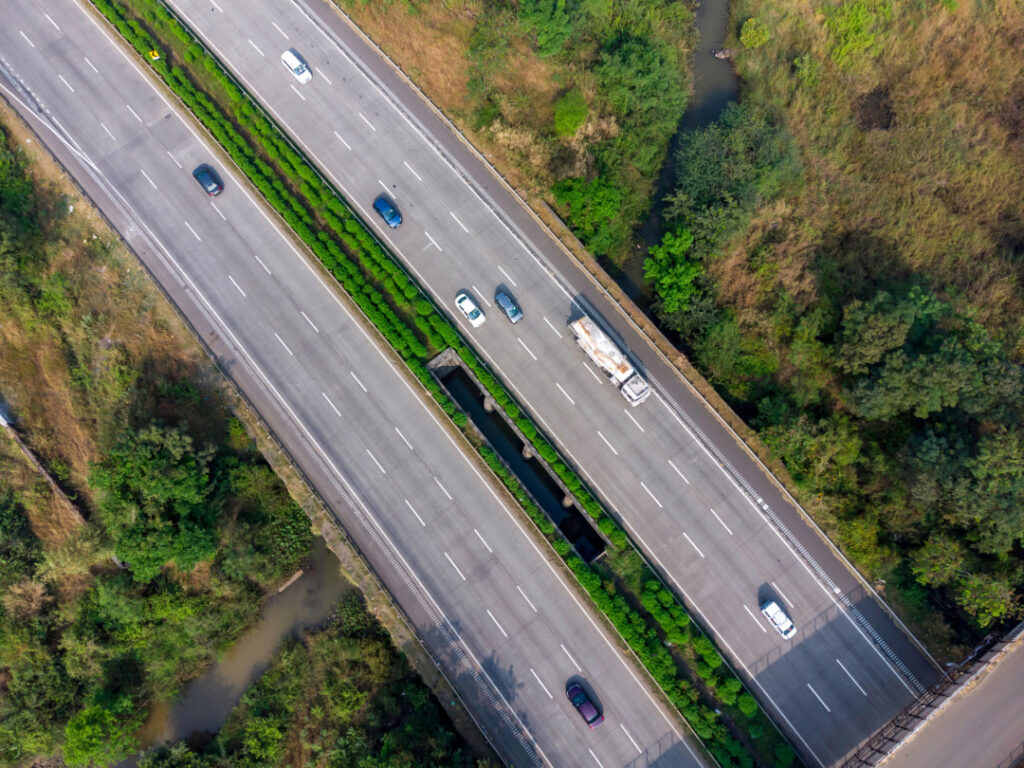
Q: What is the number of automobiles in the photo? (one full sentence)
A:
The photo contains 7 automobiles.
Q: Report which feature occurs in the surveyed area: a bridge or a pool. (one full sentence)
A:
There is a bridge in the scene.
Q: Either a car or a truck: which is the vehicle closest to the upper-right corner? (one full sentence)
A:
In the photo, the vehicle closest to the upper-right corner shows up as a truck.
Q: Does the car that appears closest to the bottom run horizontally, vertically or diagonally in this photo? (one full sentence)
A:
The car that appears closest to the bottom is oriented diagonally.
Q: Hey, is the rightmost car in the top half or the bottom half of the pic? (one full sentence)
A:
The rightmost car is in the bottom half of the image.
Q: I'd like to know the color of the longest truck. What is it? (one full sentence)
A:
The color of the longest truck is white.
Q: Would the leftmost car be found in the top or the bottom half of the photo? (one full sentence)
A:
Seen from above, the leftmost car lies in the top half of the view.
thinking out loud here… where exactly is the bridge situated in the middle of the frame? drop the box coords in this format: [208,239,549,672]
[423,346,611,572]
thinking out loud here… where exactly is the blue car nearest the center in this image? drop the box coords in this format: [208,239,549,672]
[492,290,524,323]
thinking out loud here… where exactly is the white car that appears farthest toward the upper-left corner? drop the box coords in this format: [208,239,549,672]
[277,48,312,84]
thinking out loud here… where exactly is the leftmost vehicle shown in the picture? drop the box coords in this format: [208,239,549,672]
[191,165,223,198]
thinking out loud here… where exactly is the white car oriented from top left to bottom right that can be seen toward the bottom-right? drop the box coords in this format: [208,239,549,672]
[755,596,797,642]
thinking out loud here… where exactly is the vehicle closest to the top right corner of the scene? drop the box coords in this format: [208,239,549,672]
[570,314,655,405]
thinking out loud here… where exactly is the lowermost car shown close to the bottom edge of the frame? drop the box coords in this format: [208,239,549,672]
[564,680,606,730]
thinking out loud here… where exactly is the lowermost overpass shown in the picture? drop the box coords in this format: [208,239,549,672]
[817,618,1024,768]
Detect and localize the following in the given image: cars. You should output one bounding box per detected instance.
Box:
[191,165,223,198]
[755,596,797,642]
[492,290,524,323]
[277,48,312,84]
[453,291,489,329]
[564,680,606,730]
[370,196,403,230]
